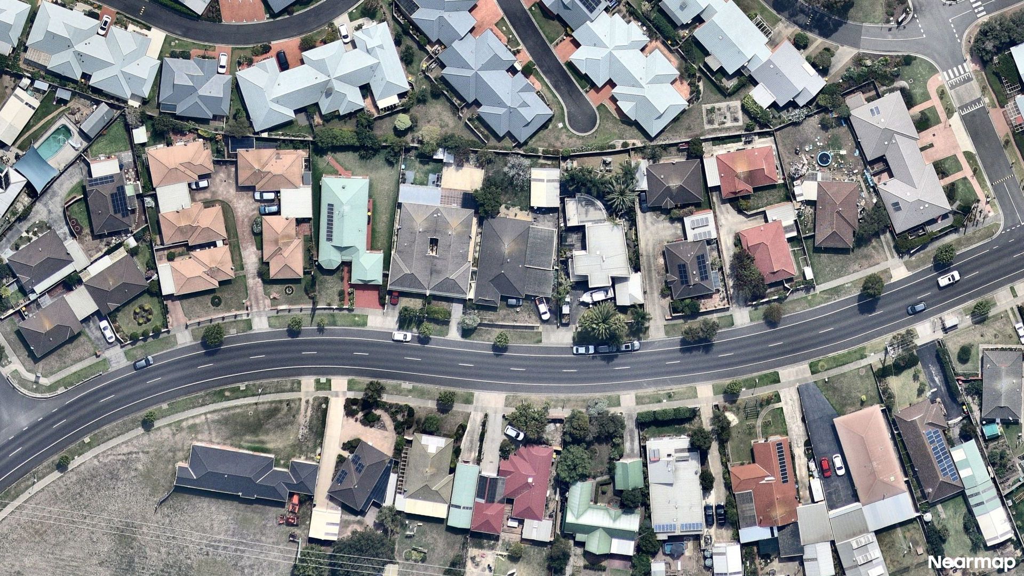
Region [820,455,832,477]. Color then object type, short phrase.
red vehicle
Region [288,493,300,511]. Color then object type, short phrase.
red vehicle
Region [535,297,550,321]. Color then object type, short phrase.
white vehicle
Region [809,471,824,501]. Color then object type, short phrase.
white camper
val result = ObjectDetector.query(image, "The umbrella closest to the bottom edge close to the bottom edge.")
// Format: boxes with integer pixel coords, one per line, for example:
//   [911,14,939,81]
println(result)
[671,544,684,557]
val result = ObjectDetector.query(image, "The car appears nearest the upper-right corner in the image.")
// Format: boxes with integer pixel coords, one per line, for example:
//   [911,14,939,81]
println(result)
[937,270,961,287]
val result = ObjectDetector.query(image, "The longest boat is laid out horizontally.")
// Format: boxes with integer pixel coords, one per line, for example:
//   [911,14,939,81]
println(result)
[580,288,613,301]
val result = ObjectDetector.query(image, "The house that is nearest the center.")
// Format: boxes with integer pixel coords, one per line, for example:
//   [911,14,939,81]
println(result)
[473,218,556,307]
